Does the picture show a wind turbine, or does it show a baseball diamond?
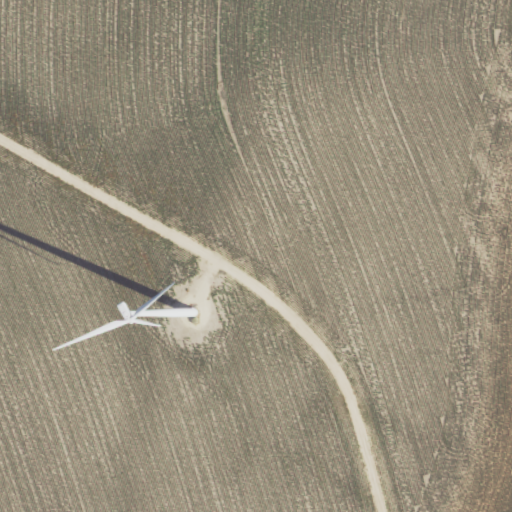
wind turbine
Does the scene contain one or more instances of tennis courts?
No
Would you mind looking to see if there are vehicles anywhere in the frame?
No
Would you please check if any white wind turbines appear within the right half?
No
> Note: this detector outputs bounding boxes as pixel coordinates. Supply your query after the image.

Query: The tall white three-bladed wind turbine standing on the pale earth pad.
[54,282,198,350]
